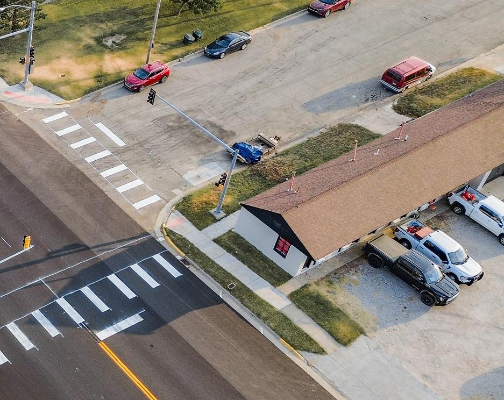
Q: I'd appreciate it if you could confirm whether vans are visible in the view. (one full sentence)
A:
Yes, a van appears in the view.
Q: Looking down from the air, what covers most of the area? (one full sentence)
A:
For the most part, this view shows paved ground.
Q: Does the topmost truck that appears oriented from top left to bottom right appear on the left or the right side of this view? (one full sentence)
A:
You can find the topmost truck that appears oriented from top left to bottom right on the right side of the picture.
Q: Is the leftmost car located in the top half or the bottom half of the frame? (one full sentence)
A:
The top half of the photo is where the leftmost car is.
